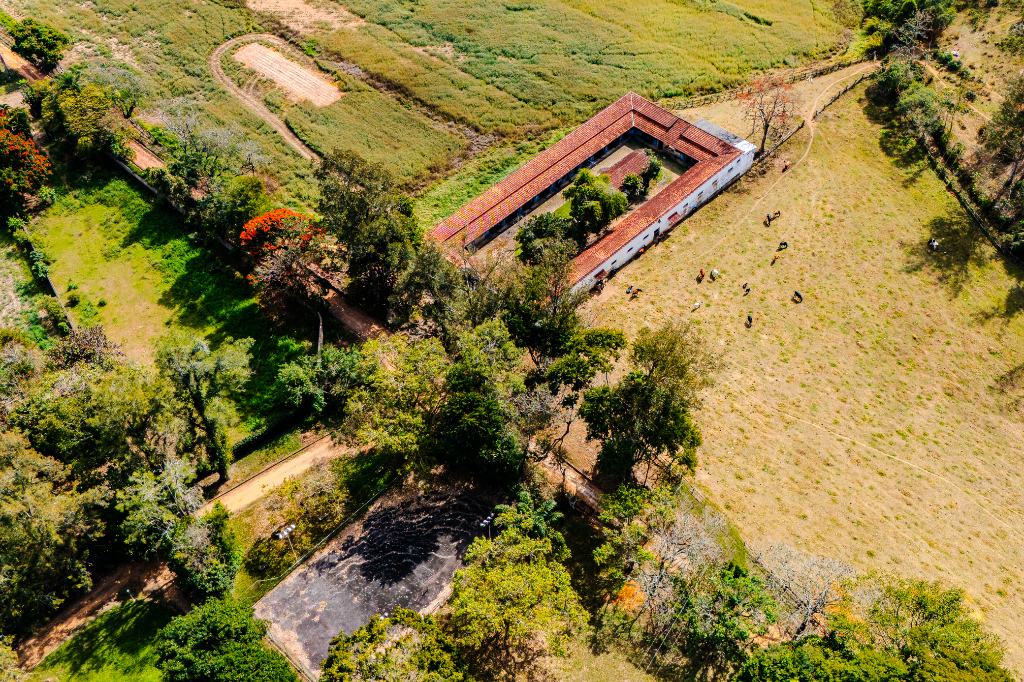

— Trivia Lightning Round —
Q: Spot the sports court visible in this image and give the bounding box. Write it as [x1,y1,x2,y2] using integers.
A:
[251,443,526,682]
